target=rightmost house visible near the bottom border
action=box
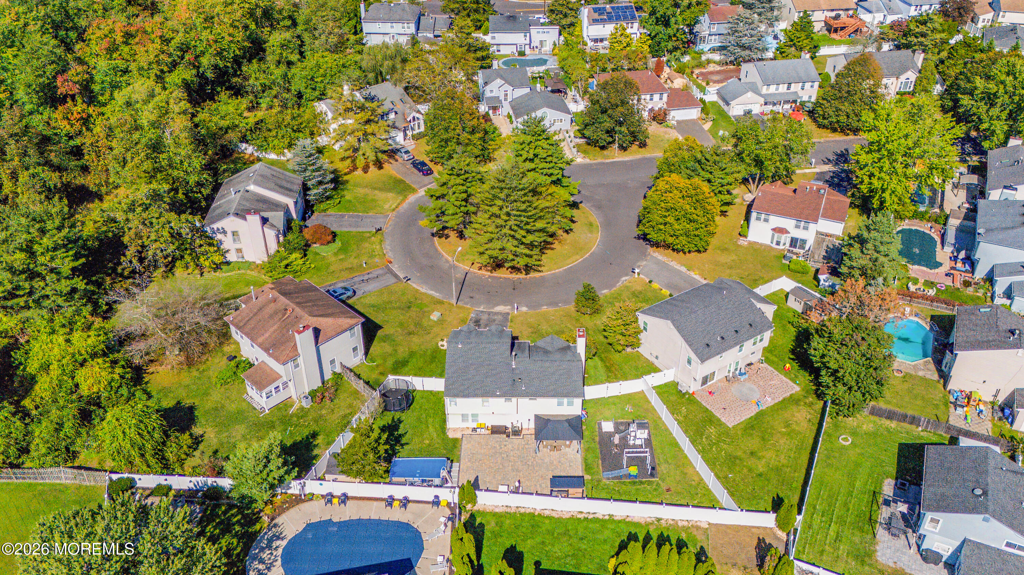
[910,445,1024,575]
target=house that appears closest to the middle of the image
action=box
[444,322,588,429]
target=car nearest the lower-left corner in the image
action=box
[329,284,358,301]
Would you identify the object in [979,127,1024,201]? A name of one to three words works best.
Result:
house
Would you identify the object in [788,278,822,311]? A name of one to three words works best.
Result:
shed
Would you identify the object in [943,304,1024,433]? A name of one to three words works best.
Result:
house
